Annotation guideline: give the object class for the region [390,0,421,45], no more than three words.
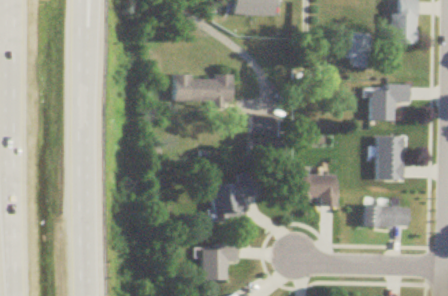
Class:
house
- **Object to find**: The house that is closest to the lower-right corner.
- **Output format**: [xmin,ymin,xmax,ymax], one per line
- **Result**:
[363,206,412,230]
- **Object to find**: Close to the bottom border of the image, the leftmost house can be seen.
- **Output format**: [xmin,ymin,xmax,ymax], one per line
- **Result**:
[203,247,240,282]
